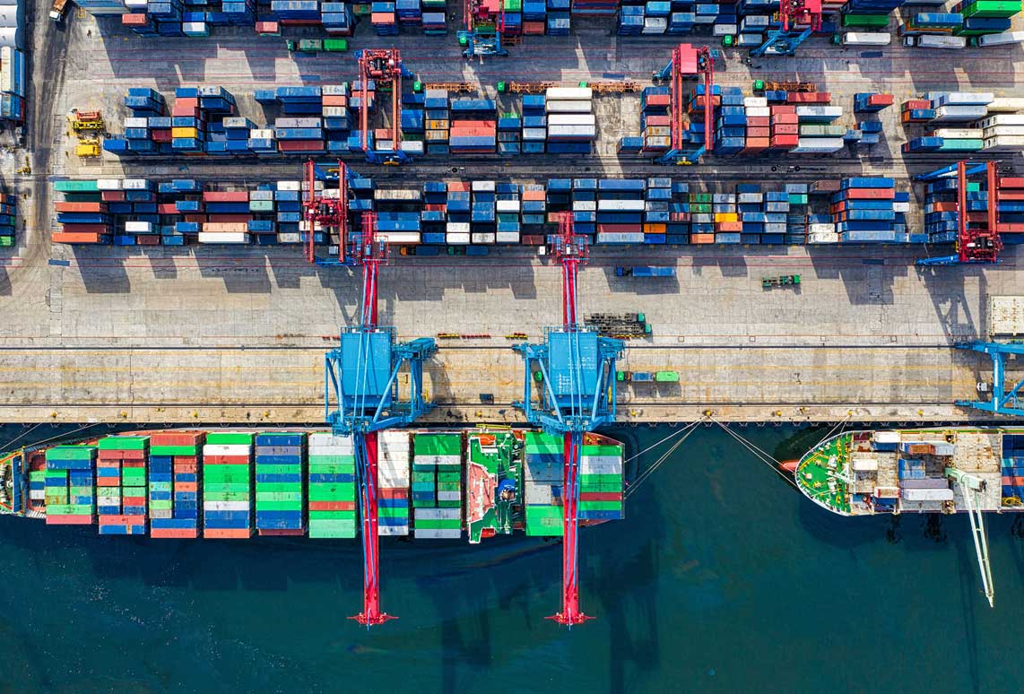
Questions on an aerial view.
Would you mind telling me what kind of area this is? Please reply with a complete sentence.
This looks like a port.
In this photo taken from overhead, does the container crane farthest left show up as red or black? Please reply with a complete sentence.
From above, the container crane farthest left appears red.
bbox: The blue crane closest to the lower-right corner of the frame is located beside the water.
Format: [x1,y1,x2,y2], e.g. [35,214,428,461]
[954,342,1024,417]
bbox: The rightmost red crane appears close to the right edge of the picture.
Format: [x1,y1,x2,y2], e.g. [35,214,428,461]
[915,161,1002,270]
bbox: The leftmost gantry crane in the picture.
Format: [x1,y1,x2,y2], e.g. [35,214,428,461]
[303,161,365,270]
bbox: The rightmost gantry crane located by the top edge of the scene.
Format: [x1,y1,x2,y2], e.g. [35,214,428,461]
[753,0,823,60]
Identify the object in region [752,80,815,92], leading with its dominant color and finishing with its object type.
green vehicle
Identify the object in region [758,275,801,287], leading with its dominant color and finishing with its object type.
green vehicle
